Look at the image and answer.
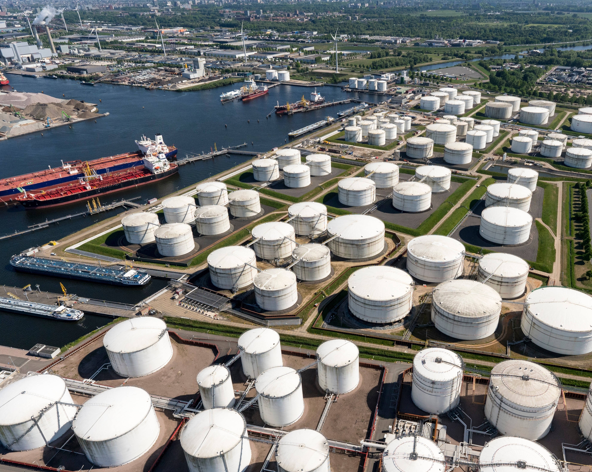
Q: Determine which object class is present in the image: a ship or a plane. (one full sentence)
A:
I can see a ship in this picture.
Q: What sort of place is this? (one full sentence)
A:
What you see here is an industrial area.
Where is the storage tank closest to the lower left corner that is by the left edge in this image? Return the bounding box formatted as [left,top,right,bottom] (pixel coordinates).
[0,373,78,453]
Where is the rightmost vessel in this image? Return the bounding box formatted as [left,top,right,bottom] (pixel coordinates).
[337,103,369,116]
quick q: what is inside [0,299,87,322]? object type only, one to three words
ship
